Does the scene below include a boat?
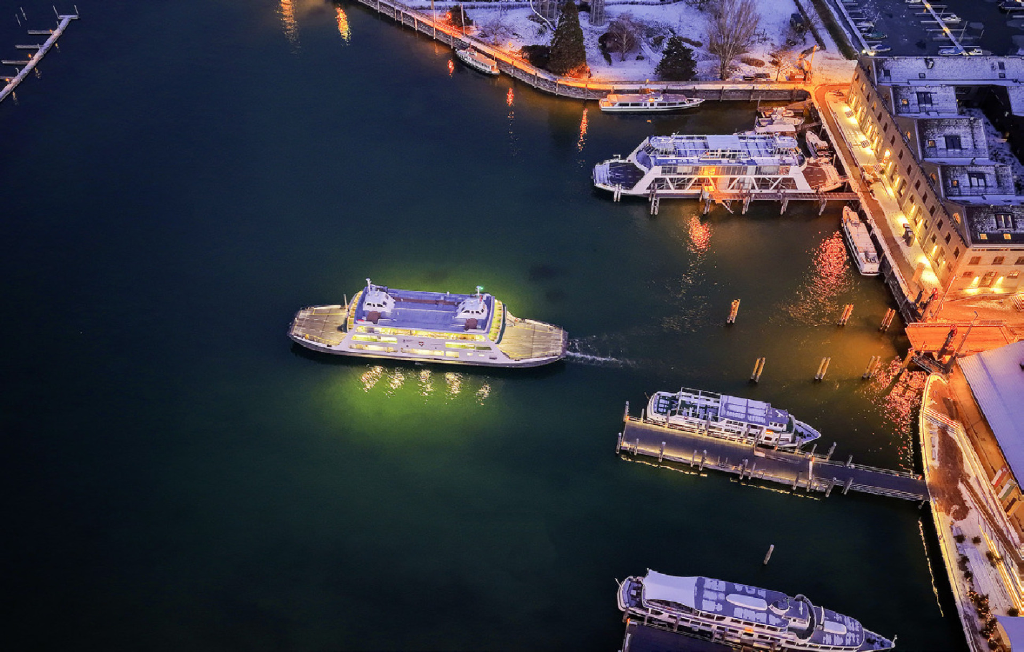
Yes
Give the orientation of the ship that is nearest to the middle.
from left to right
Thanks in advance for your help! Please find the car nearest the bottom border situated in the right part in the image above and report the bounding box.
[902,226,916,239]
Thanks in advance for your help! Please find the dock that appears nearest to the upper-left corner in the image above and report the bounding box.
[0,15,80,104]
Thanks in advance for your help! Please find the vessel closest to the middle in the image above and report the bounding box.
[286,278,571,373]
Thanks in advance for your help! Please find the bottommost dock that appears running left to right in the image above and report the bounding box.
[624,617,773,652]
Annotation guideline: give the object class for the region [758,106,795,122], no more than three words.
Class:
boat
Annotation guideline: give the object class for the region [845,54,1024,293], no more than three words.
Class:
warehouse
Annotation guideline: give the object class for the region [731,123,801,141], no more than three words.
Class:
boat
